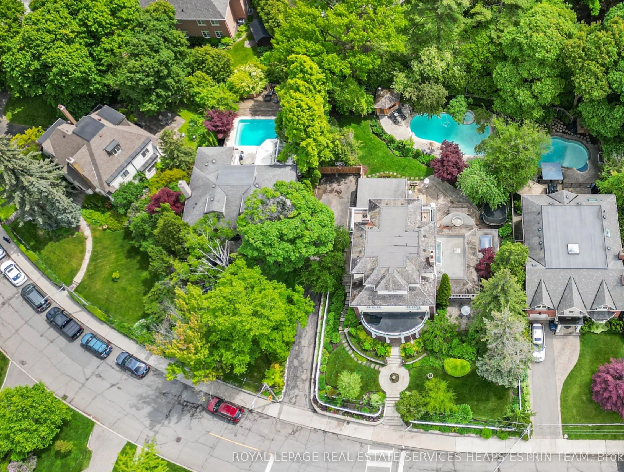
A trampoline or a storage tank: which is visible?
trampoline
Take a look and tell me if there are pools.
Yes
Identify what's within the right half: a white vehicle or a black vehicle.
white vehicle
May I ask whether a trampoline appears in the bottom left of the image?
No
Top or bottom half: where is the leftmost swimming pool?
top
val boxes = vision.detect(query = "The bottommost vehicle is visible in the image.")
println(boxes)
[204,394,248,427]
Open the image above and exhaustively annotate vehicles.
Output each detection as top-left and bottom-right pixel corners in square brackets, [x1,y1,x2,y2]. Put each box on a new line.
[43,304,86,344]
[19,281,55,314]
[0,257,31,290]
[77,331,116,364]
[528,322,549,365]
[113,349,154,383]
[204,394,248,427]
